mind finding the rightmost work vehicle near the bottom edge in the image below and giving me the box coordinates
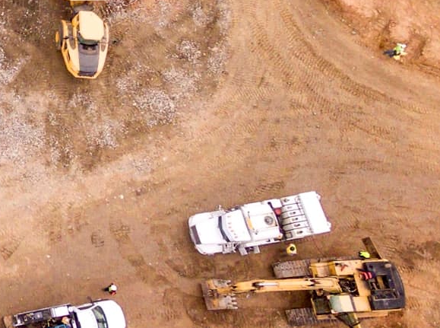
[207,256,404,328]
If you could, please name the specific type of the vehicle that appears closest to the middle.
truck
